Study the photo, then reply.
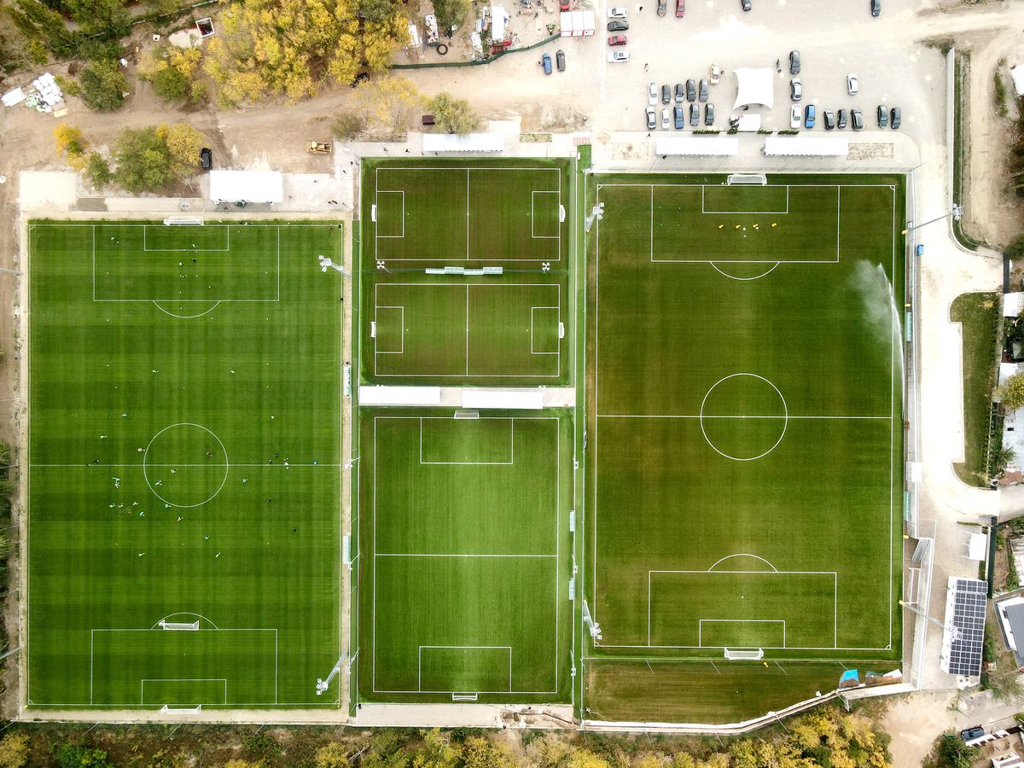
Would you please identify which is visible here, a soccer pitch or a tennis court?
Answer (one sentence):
Visible in the photo is a soccer pitch.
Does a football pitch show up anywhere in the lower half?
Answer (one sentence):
Yes, a football pitch is visible in the lower half.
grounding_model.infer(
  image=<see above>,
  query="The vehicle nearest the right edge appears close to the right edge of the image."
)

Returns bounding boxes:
[962,727,988,743]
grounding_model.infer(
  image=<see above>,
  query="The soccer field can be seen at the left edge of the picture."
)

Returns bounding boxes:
[26,219,344,711]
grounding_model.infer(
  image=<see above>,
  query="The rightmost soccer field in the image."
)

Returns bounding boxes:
[585,174,906,663]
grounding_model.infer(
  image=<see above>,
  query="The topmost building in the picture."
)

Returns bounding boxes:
[561,9,596,38]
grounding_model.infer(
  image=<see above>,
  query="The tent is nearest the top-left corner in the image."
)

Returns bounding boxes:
[210,171,288,206]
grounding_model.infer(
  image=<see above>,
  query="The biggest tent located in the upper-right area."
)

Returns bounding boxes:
[735,115,761,135]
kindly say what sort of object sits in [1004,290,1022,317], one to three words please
shed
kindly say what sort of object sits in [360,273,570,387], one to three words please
soccer field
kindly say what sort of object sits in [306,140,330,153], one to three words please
vehicle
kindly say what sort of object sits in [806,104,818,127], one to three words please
vehicle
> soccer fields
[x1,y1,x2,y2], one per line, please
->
[360,273,570,387]
[359,408,575,705]
[585,174,906,663]
[360,159,570,273]
[26,219,344,711]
